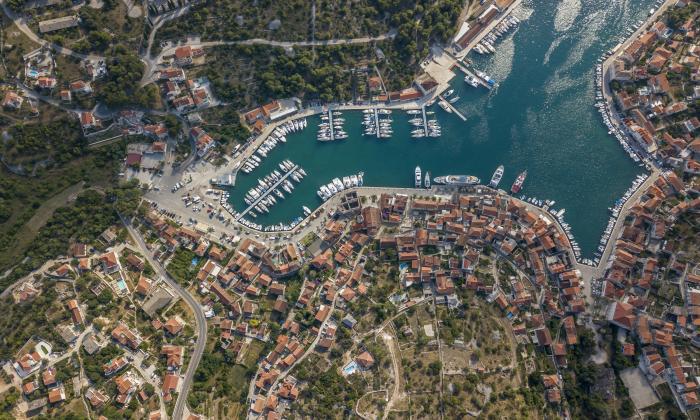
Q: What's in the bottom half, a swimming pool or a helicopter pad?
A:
swimming pool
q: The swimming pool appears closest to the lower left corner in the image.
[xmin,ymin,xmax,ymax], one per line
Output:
[34,341,53,359]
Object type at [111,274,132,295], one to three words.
swimming pool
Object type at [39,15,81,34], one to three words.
shed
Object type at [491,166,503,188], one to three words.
ship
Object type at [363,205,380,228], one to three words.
house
